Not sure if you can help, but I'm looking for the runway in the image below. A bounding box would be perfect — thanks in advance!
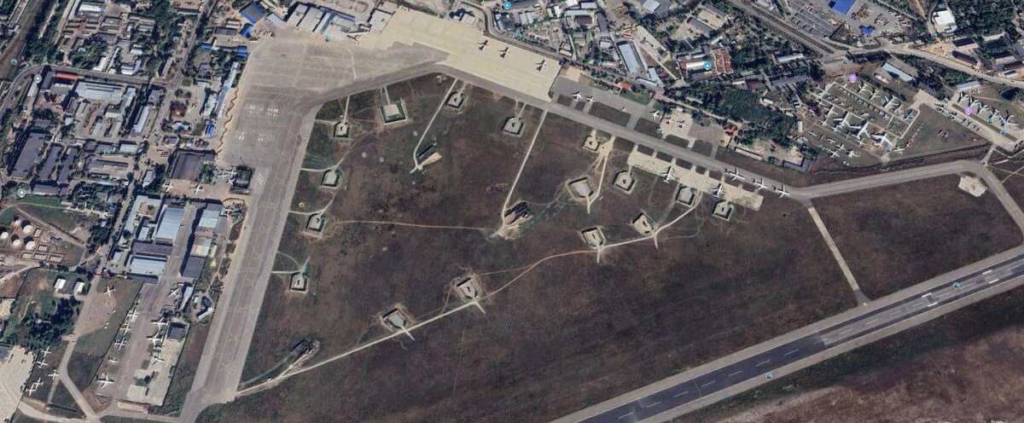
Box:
[550,245,1024,423]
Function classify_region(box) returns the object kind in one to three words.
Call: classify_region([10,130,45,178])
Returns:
building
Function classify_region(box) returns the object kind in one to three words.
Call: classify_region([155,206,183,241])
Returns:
hangar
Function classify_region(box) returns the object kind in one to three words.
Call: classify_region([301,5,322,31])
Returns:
hangar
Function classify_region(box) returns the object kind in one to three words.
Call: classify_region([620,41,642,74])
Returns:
building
